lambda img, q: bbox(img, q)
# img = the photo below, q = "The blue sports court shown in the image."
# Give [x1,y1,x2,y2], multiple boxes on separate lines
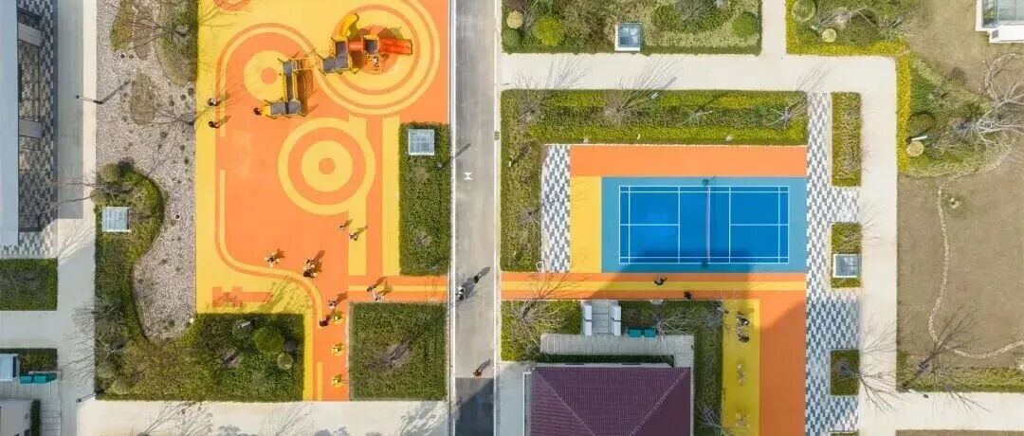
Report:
[602,177,806,273]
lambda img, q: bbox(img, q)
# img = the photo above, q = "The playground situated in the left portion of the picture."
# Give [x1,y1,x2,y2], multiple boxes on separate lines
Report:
[196,0,449,401]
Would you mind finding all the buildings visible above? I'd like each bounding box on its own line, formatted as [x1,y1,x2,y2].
[0,401,34,436]
[0,0,40,245]
[524,363,691,436]
[977,0,1024,42]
